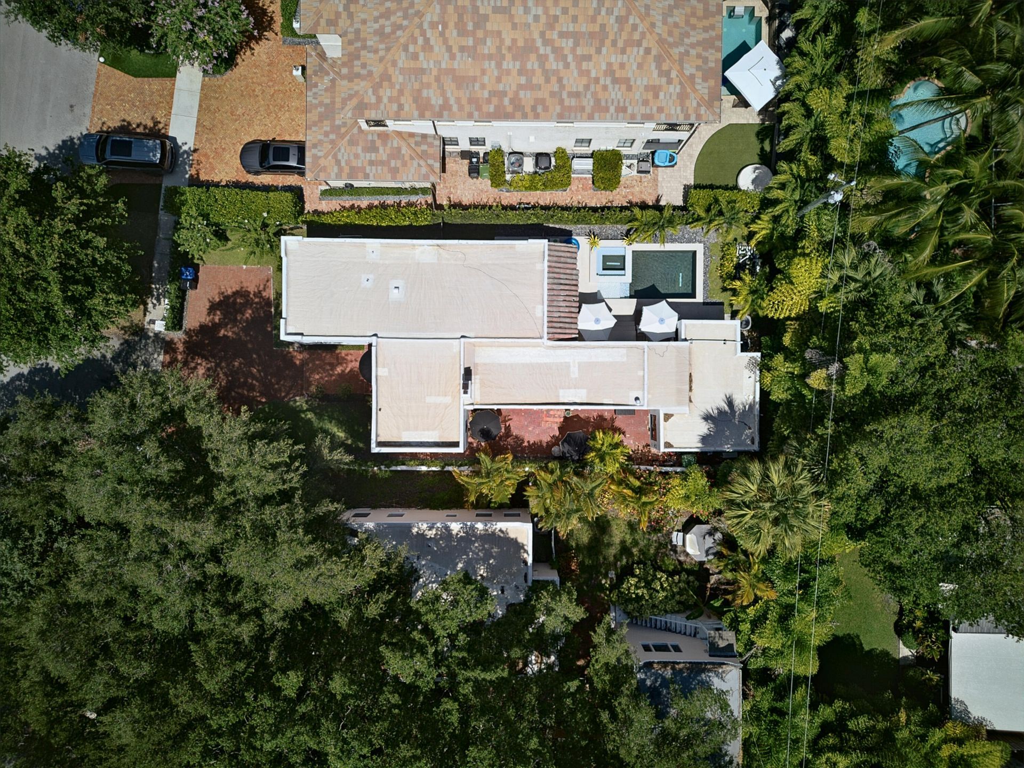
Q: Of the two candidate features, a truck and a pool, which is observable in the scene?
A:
pool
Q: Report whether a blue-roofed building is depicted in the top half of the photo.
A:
No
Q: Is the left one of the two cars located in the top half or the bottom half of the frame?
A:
top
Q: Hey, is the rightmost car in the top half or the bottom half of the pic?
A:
top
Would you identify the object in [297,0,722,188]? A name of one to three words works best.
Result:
house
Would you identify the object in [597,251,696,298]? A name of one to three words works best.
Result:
swimming pool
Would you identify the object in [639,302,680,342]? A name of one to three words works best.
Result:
umbrella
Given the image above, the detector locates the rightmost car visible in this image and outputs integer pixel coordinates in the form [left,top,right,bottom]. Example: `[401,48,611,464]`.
[241,134,305,179]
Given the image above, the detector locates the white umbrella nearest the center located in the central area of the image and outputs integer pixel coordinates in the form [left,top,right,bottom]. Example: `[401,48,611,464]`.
[578,302,616,342]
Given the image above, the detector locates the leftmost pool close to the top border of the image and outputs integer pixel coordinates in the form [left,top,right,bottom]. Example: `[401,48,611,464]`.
[722,8,761,96]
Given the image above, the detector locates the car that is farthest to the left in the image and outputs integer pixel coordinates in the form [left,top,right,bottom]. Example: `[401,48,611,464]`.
[82,129,177,178]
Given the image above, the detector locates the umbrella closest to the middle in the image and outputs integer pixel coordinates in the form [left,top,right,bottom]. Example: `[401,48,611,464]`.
[470,410,501,440]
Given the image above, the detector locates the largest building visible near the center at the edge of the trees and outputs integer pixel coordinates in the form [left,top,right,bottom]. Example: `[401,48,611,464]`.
[281,235,760,452]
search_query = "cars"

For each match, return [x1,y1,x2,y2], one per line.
[82,129,177,178]
[241,134,305,179]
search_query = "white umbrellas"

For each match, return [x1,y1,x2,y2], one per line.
[639,302,680,342]
[723,40,793,111]
[578,302,616,342]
